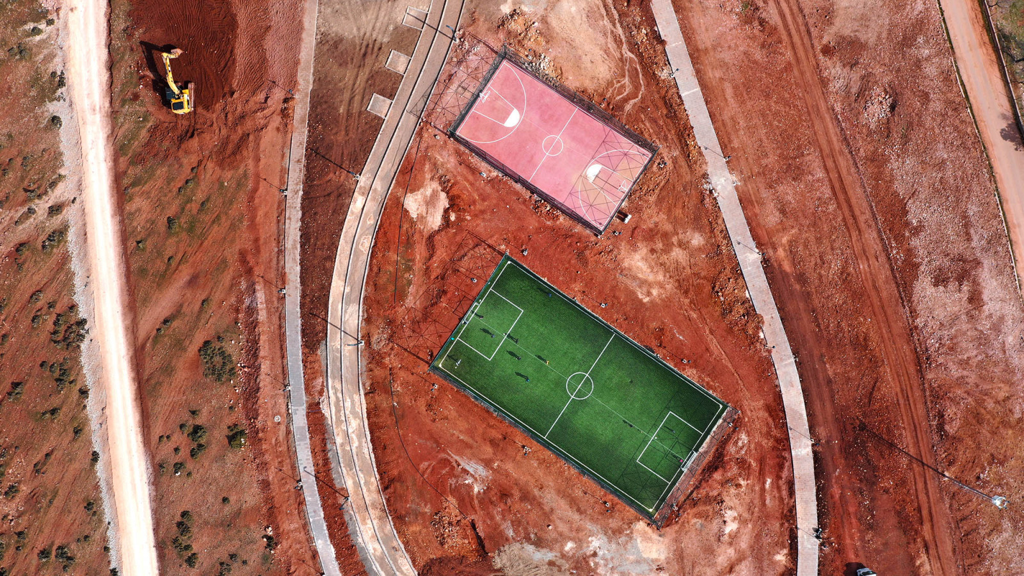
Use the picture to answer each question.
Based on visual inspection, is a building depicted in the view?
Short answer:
No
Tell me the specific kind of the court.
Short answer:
basketball court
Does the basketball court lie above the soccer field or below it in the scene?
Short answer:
above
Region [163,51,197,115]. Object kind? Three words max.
work vehicle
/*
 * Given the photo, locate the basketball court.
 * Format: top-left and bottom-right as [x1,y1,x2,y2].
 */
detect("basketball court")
[452,53,657,235]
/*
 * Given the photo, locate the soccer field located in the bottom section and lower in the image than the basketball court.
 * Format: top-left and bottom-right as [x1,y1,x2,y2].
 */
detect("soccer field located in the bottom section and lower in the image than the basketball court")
[430,253,731,519]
